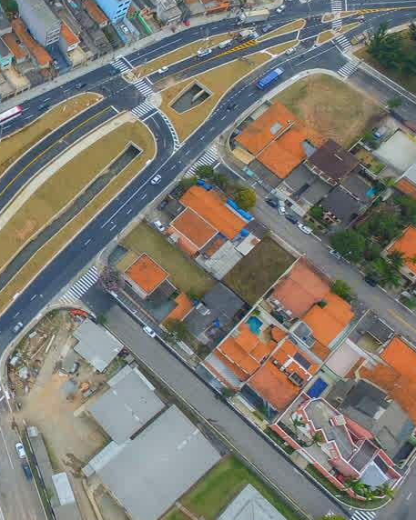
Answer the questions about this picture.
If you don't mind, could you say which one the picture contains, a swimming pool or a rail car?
swimming pool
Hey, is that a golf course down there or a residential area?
residential area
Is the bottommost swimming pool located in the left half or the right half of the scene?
right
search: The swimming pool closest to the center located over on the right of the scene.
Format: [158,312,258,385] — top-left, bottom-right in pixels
[244,314,263,332]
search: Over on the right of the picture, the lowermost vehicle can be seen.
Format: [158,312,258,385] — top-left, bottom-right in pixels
[362,276,377,289]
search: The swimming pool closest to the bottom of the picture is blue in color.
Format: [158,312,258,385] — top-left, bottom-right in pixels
[304,376,331,400]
